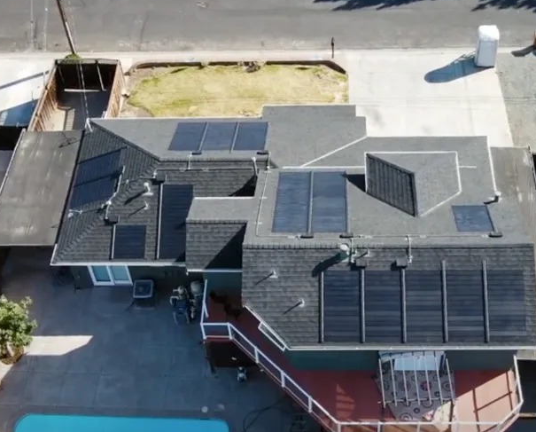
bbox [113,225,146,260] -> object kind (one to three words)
solar panel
